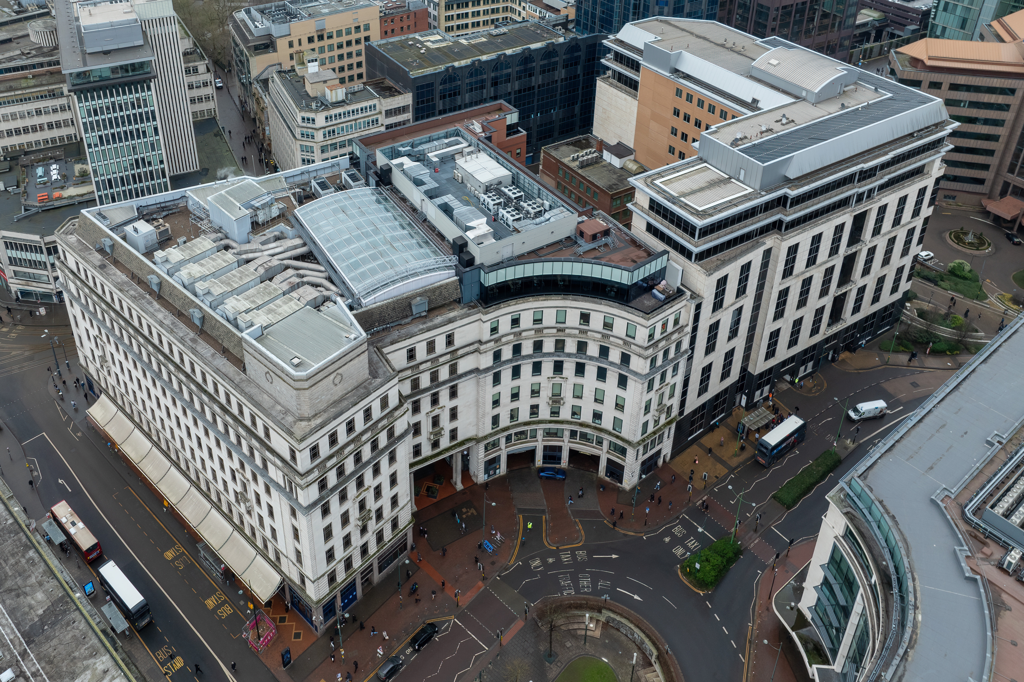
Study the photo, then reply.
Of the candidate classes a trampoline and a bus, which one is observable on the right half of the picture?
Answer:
bus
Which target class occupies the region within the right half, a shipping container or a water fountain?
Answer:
water fountain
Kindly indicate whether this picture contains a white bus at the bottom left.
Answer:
Yes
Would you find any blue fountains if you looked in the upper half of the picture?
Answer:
No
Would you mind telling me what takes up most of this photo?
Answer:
buildings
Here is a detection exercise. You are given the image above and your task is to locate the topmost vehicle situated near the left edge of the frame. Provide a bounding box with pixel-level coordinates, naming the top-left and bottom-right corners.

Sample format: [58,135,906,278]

[51,503,103,563]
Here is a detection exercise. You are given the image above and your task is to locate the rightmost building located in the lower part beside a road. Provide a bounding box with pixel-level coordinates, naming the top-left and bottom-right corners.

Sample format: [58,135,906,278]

[771,312,1024,682]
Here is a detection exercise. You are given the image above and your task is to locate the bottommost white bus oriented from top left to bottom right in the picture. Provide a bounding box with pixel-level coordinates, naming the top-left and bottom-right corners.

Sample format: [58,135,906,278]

[96,561,155,635]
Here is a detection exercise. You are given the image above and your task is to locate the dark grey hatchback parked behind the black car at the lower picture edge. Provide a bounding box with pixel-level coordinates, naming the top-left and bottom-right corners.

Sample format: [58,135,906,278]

[374,653,403,682]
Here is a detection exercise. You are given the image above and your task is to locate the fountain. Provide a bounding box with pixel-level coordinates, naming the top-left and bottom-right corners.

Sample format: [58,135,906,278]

[945,225,996,252]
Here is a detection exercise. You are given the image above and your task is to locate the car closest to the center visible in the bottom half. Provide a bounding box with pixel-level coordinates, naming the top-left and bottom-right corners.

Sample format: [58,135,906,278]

[536,467,568,481]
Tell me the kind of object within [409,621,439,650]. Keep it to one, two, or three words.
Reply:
car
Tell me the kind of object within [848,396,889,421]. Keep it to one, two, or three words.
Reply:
vehicle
